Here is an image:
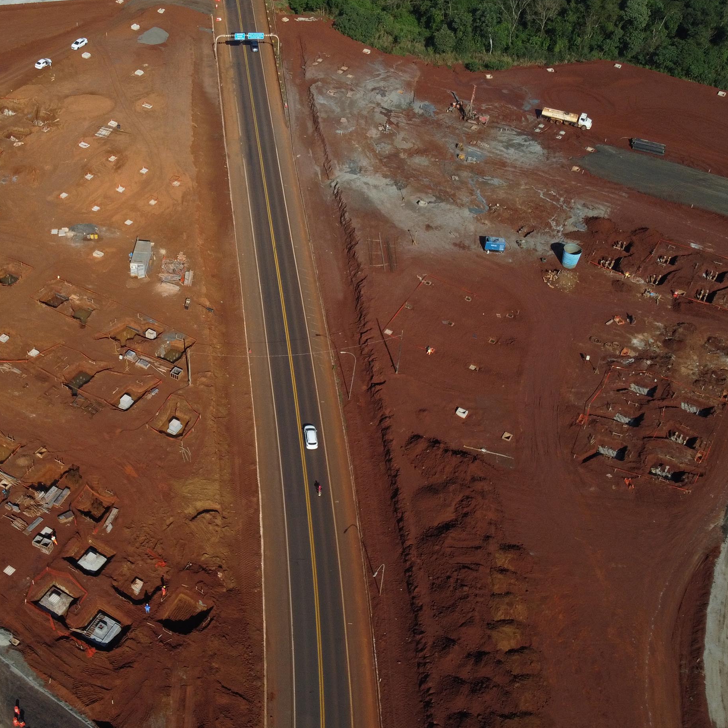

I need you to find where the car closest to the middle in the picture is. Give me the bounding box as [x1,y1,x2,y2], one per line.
[304,425,319,448]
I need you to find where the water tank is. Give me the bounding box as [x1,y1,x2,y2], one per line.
[558,243,583,269]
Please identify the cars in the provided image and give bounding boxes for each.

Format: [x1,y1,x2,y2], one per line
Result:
[250,39,259,51]
[33,57,52,67]
[70,38,88,50]
[304,425,319,448]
